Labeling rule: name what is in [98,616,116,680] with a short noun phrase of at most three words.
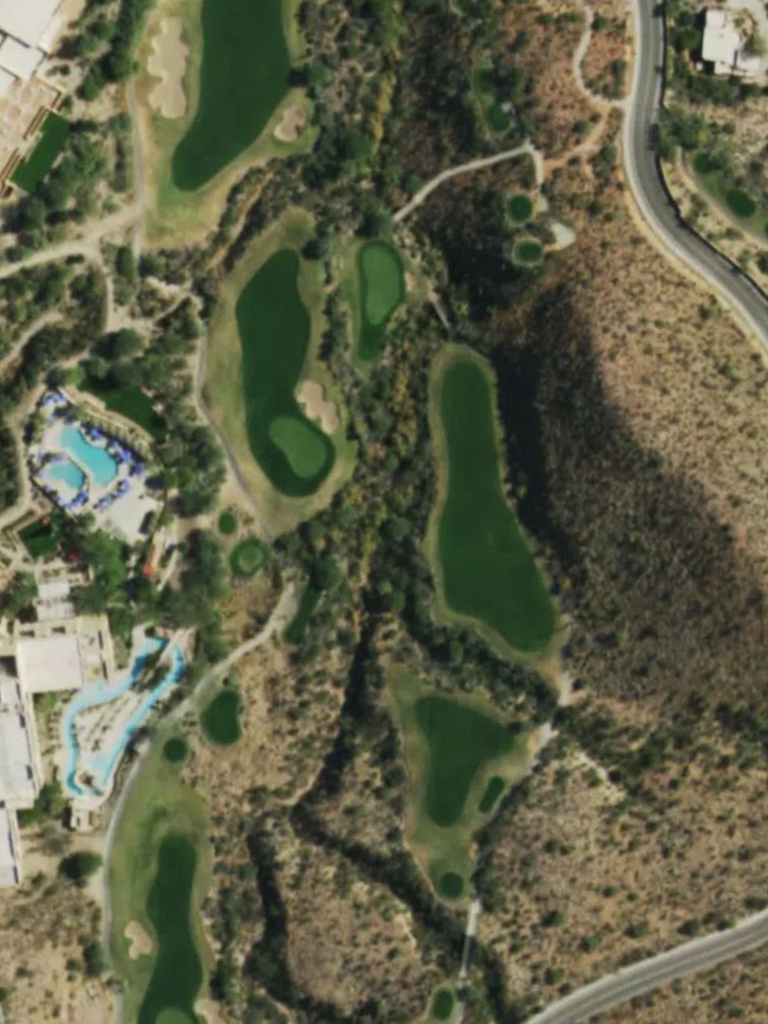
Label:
building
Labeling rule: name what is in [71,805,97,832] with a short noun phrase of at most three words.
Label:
house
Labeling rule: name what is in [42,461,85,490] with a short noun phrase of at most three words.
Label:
swimming pool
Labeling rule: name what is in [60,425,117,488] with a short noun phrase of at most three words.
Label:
swimming pool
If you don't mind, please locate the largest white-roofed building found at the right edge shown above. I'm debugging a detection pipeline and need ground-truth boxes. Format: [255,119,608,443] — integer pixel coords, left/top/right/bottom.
[702,9,740,74]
